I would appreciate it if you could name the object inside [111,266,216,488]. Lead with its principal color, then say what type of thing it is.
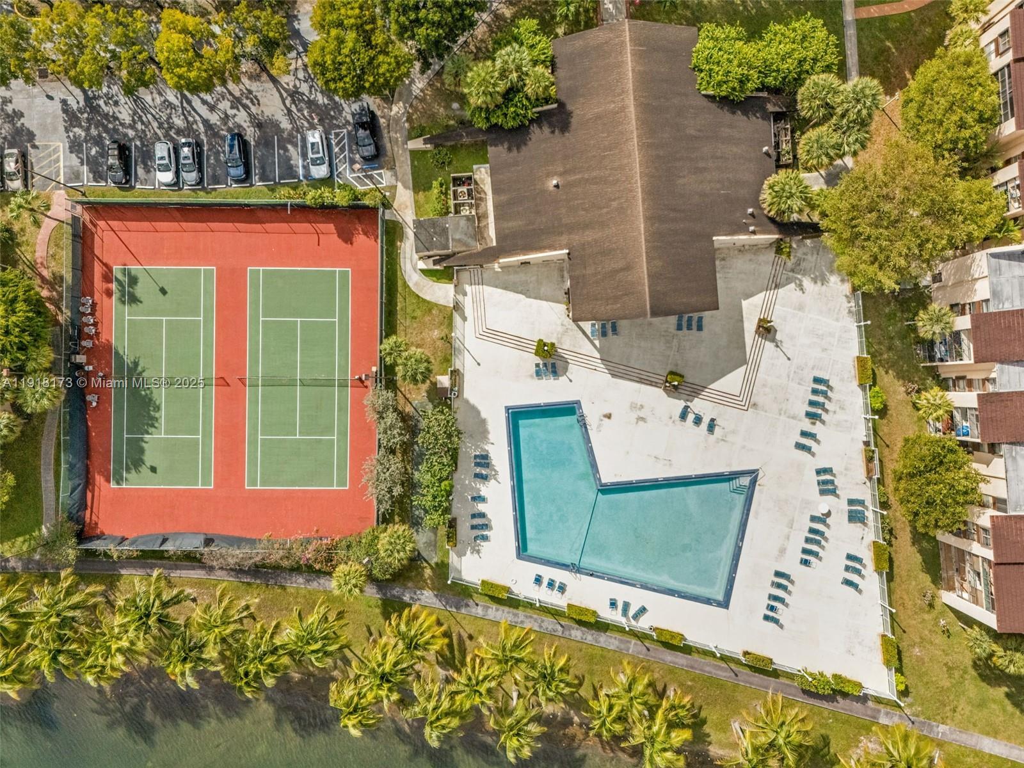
green tennis court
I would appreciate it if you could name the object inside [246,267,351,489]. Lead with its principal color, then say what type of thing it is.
green tennis court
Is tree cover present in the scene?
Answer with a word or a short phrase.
Yes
